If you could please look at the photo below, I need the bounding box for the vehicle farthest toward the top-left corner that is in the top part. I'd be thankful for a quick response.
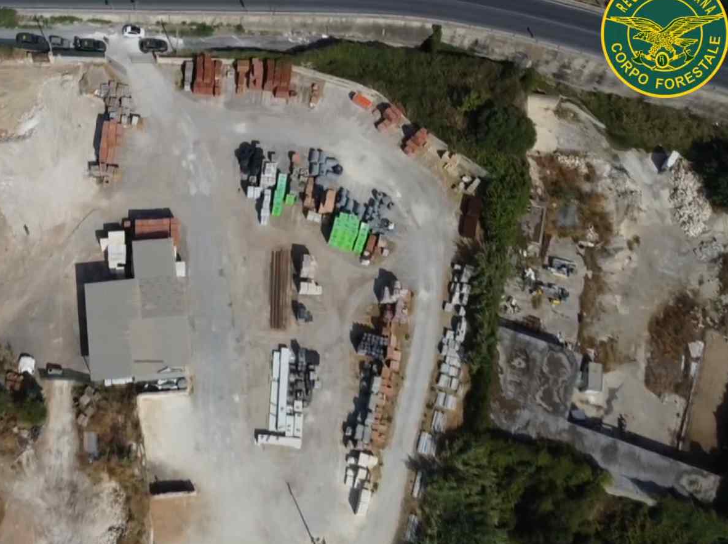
[16,31,48,48]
